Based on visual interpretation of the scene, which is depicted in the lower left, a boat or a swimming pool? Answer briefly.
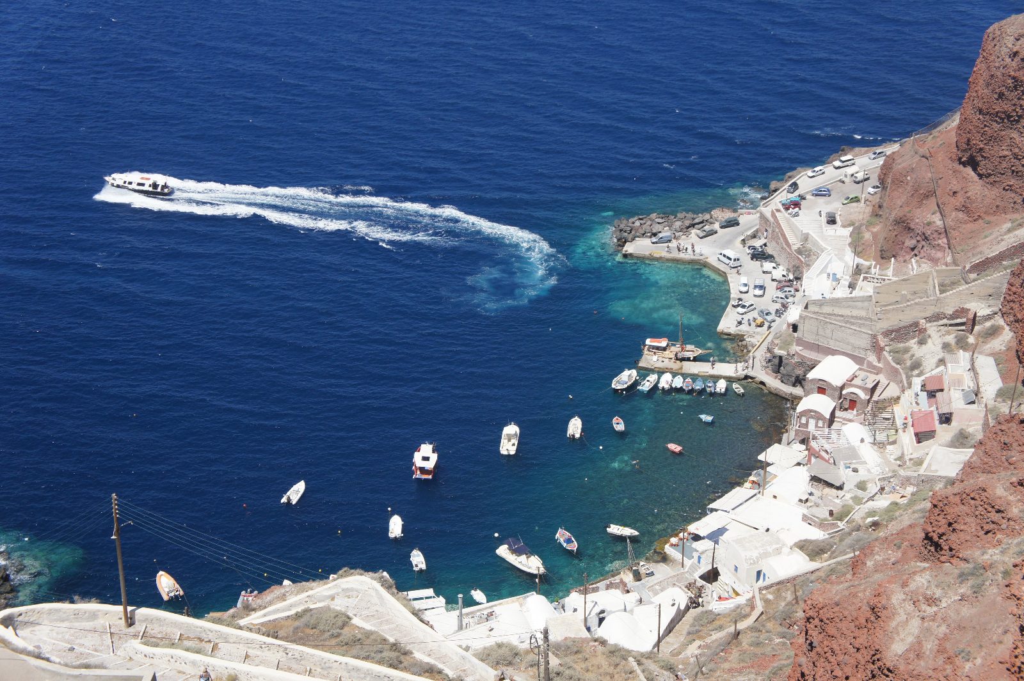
boat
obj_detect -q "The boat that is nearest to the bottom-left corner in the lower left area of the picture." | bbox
[156,571,184,602]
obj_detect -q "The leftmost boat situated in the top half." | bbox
[104,169,177,204]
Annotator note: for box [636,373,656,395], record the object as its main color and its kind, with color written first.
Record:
white boat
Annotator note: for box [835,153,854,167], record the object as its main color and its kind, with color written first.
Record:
white car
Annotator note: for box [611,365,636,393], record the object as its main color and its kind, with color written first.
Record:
white boat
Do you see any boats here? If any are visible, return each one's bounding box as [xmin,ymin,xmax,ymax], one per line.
[104,169,177,204]
[469,585,486,604]
[611,365,636,393]
[699,414,716,425]
[636,373,656,395]
[604,522,638,537]
[734,383,744,395]
[614,416,624,435]
[412,439,437,484]
[693,377,703,394]
[492,535,544,574]
[705,379,714,396]
[658,372,672,393]
[237,587,258,606]
[683,377,693,393]
[557,525,576,554]
[568,416,583,442]
[410,548,426,574]
[389,515,402,541]
[281,480,305,505]
[156,571,184,602]
[666,445,684,455]
[499,423,518,459]
[671,374,683,392]
[645,299,711,362]
[715,378,727,396]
